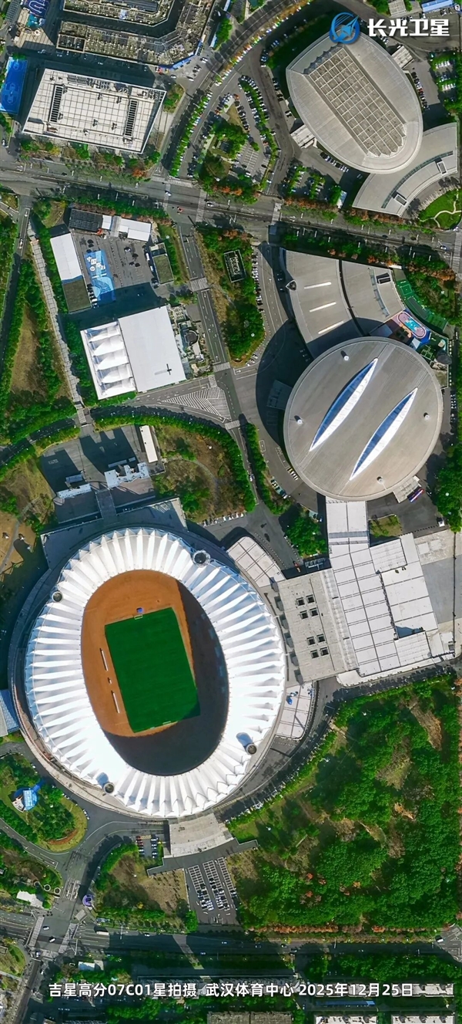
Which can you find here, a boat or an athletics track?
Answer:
athletics track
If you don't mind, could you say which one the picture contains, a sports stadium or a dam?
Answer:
sports stadium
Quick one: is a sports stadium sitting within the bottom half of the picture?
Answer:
Yes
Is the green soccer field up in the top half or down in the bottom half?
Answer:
bottom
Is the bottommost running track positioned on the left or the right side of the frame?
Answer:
left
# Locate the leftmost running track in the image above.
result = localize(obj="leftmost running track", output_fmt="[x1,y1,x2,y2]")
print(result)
[82,572,226,774]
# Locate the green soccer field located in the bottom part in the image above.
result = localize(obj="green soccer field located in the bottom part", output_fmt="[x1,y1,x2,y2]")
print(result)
[105,607,200,733]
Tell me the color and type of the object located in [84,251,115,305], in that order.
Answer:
blue sports court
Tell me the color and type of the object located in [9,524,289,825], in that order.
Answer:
white stadium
